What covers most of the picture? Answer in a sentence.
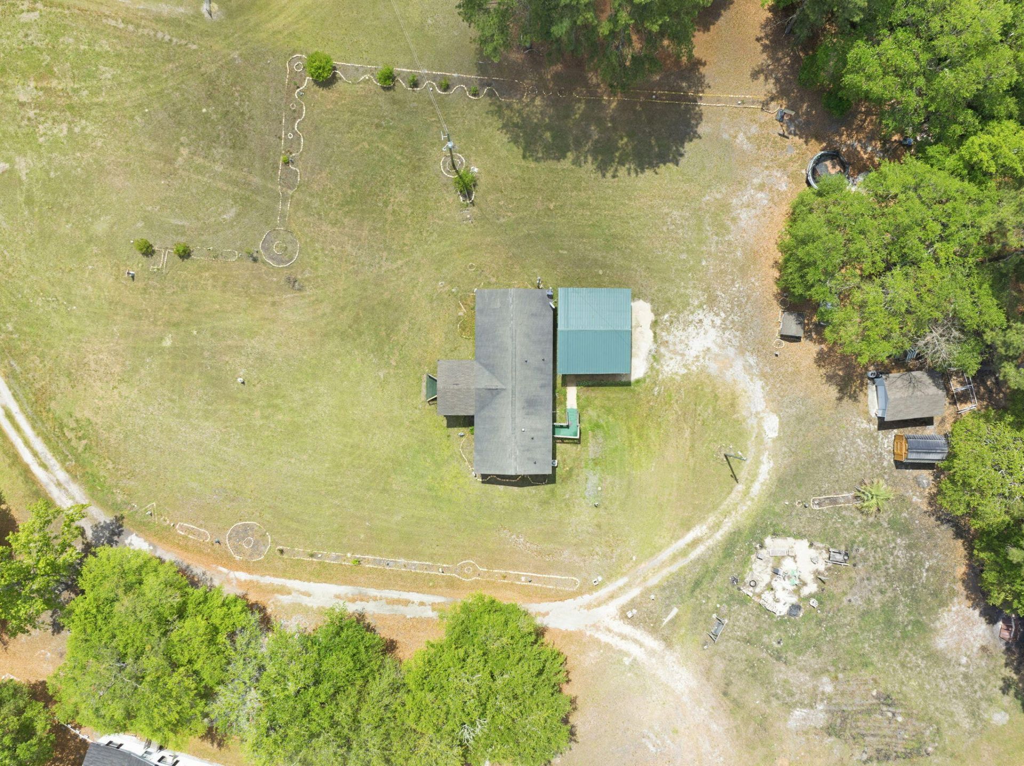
Most of the picture is covered by grass.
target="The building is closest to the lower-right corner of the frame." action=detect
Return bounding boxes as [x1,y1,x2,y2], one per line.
[895,435,952,464]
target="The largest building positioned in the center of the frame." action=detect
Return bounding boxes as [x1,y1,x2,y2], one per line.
[426,287,552,476]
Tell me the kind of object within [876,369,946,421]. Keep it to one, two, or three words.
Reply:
shed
